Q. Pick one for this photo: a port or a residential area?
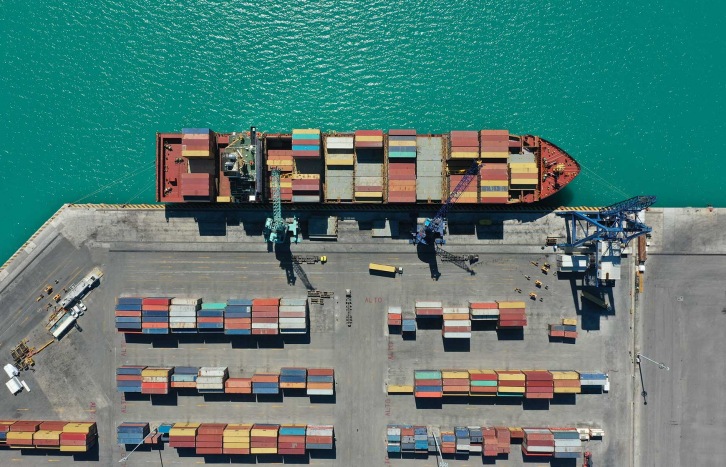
port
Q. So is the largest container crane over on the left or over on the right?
right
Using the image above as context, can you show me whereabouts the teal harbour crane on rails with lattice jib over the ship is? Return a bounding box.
[265,167,301,247]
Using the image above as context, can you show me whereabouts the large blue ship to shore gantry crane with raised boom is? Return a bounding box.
[555,195,659,290]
